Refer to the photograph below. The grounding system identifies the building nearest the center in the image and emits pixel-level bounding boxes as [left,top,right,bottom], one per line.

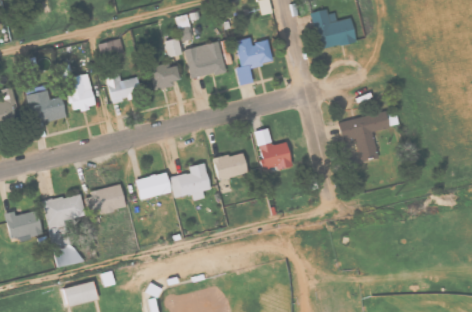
[212,152,248,180]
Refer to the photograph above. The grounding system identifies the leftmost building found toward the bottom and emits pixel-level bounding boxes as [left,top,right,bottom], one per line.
[4,211,41,240]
